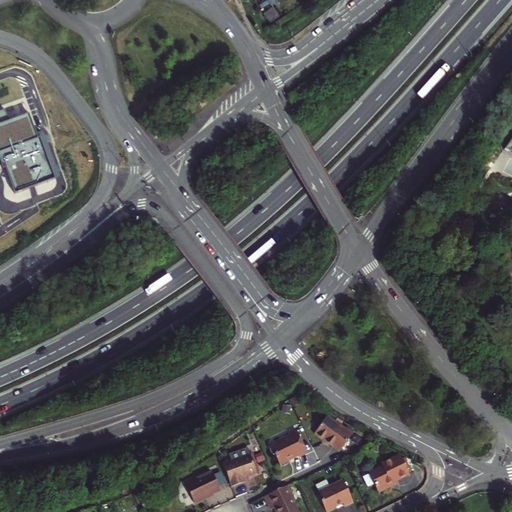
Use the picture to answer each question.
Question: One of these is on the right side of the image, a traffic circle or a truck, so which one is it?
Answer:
truck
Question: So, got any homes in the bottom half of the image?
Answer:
Yes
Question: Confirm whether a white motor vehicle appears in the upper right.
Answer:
Yes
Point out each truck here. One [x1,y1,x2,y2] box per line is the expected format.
[248,238,274,262]
[417,62,452,98]
[144,274,174,295]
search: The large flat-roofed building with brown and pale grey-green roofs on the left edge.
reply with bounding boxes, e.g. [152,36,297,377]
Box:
[0,107,54,190]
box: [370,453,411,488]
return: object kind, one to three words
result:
house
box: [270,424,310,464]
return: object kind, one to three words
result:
house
